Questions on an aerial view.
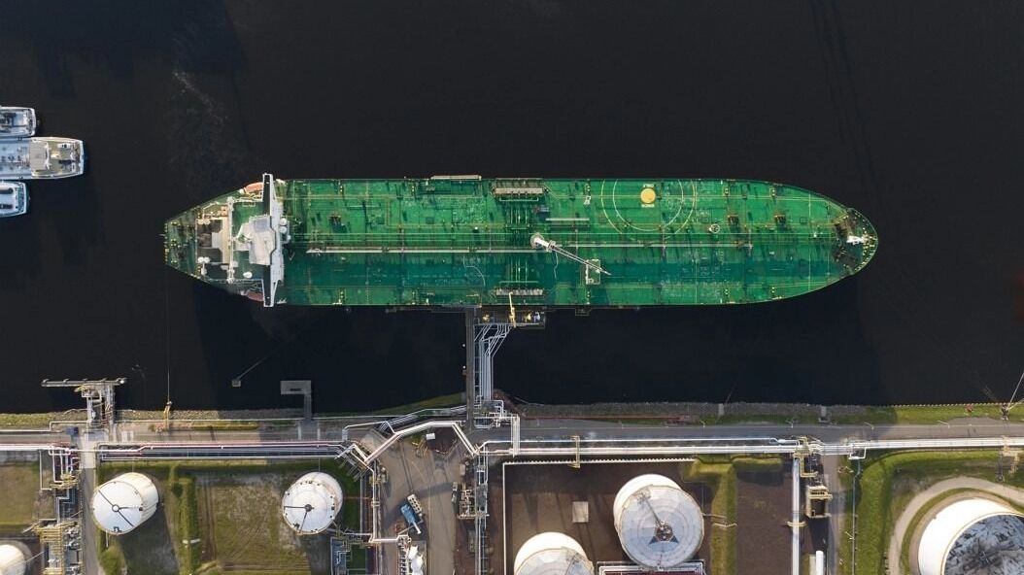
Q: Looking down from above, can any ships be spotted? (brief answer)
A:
Yes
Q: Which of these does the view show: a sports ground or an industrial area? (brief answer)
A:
industrial area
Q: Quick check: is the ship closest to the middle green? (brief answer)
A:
Yes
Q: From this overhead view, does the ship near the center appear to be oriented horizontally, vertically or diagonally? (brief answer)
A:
horizontally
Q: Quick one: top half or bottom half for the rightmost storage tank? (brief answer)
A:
bottom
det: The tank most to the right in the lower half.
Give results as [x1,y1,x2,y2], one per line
[919,498,1024,575]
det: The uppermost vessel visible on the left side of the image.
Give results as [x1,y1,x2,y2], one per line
[0,106,39,136]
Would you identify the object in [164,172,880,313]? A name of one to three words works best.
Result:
ship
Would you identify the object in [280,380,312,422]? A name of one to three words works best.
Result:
pier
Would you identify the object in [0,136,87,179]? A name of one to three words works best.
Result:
ship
